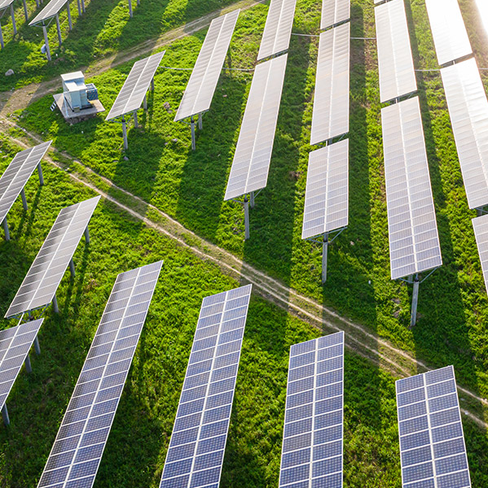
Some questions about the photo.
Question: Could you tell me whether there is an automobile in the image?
No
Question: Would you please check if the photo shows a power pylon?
No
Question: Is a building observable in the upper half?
Yes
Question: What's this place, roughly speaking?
solar farm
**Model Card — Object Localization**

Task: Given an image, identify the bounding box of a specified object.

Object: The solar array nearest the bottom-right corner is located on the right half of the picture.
[396,367,471,488]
